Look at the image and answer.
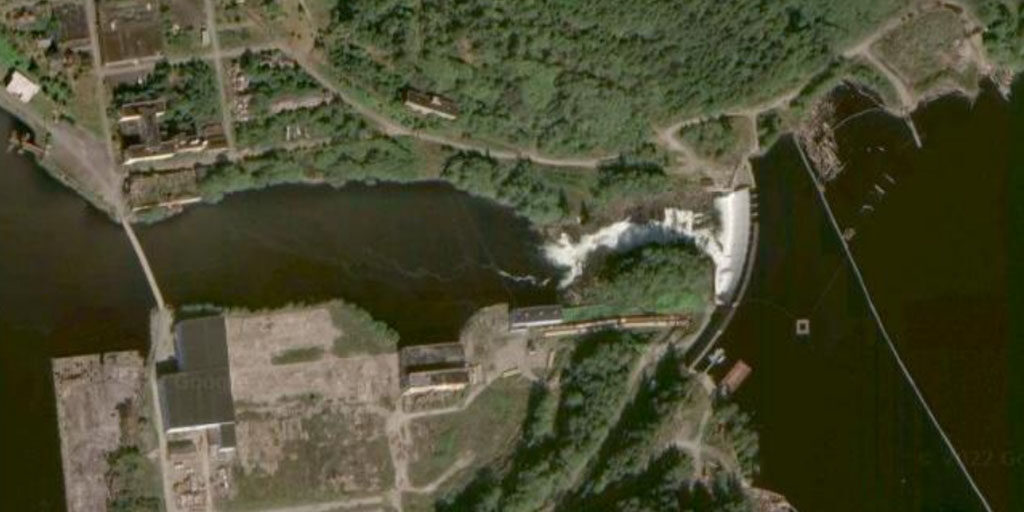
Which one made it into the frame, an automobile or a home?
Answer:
home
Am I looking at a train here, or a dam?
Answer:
dam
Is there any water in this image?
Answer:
Yes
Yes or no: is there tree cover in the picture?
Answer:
Yes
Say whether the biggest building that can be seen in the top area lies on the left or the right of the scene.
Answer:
left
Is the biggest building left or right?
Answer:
left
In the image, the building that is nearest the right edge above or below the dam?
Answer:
below it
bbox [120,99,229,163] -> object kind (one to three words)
building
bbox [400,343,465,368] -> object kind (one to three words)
building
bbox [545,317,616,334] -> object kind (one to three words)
shed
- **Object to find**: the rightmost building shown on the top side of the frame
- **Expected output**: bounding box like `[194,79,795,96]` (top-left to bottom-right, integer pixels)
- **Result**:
[401,90,458,119]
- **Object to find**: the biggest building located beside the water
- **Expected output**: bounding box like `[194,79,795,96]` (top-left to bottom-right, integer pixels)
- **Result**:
[163,315,235,451]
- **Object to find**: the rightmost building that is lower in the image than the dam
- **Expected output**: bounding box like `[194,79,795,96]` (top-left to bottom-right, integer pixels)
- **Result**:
[720,360,752,395]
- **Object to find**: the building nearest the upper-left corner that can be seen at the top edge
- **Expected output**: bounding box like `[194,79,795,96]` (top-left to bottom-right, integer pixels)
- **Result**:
[15,14,37,32]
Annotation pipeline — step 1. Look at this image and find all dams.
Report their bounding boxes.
[706,157,758,308]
